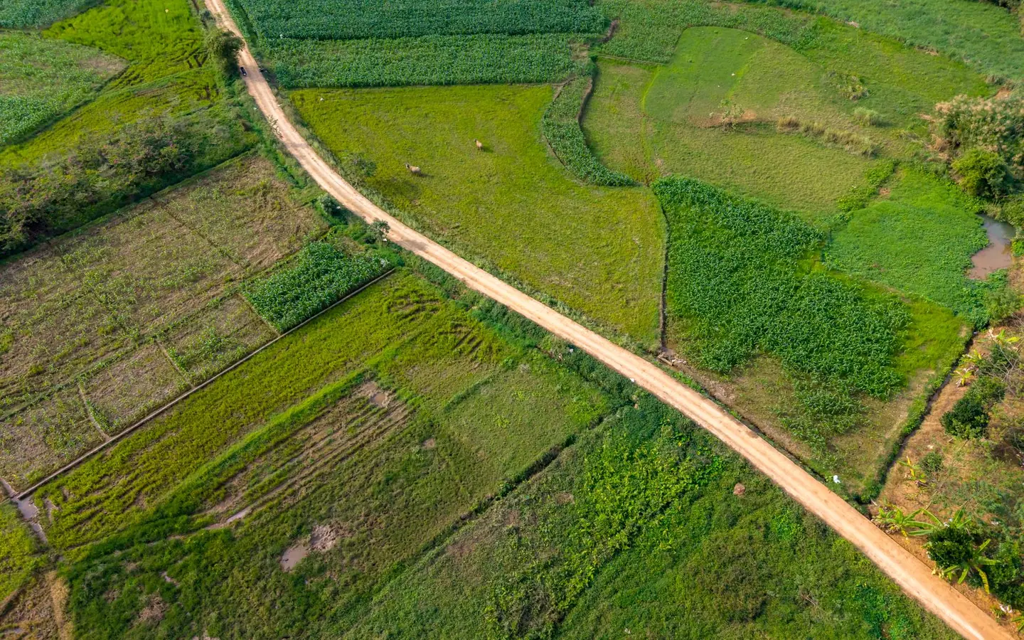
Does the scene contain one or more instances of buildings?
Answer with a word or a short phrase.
No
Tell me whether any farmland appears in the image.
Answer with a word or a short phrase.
Yes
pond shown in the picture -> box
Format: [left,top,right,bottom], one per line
[967,217,1014,280]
